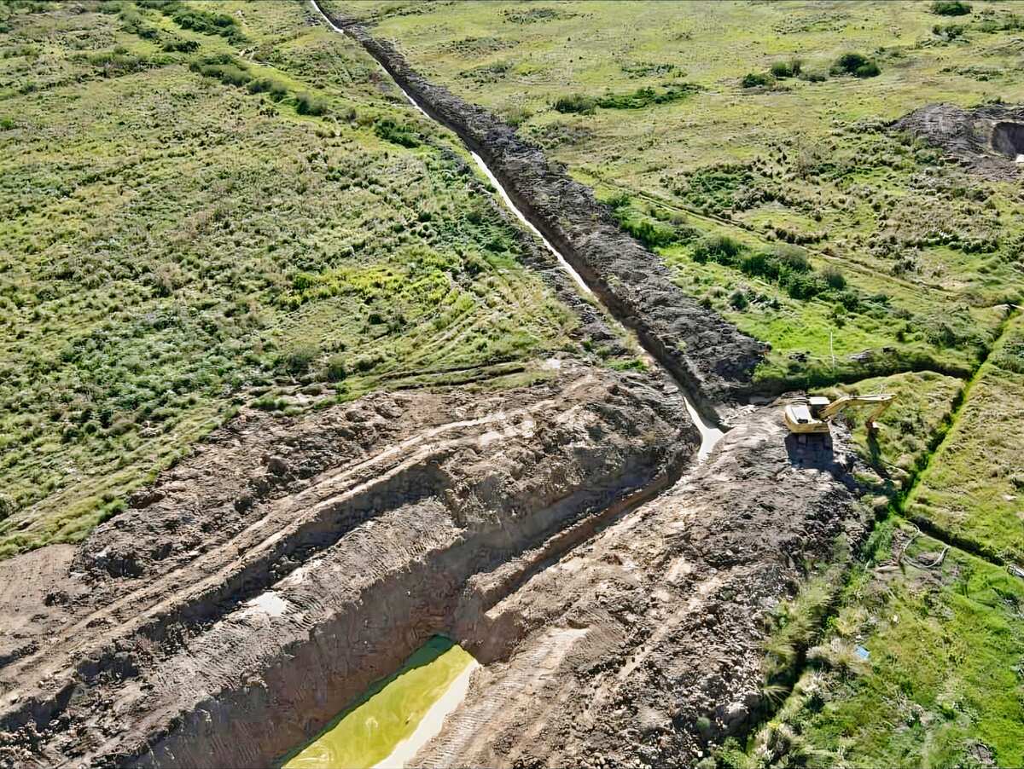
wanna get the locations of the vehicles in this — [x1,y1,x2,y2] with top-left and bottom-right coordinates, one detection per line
[784,400,893,442]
